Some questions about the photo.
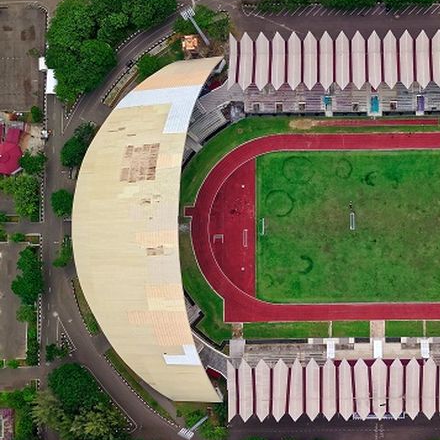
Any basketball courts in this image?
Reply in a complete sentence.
No, I can see no basketball court in this picture.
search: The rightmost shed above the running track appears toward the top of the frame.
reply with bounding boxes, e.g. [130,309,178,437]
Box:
[182,34,201,60]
